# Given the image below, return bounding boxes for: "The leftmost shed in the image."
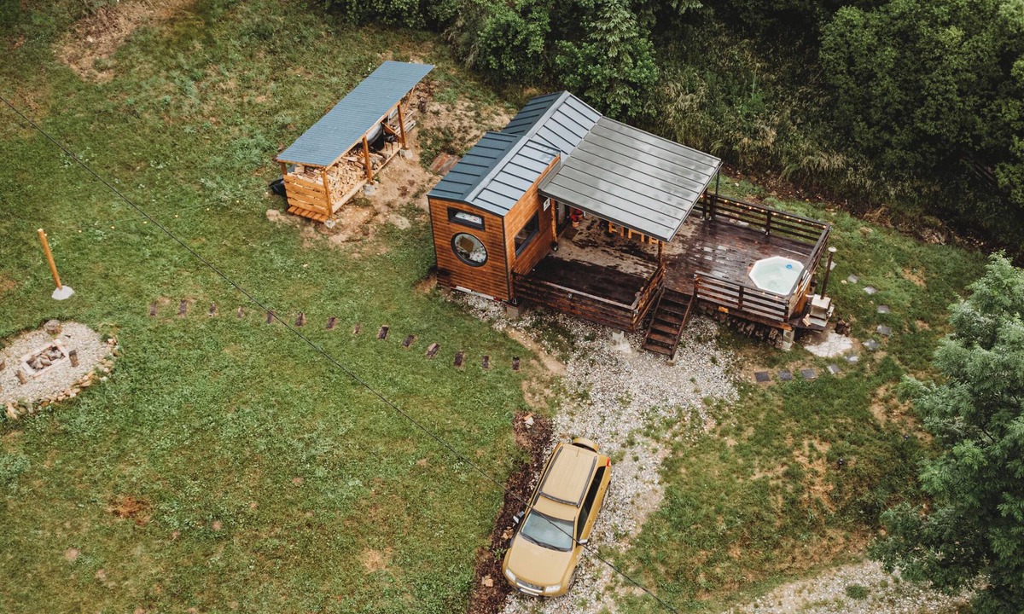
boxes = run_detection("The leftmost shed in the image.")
[272,60,441,227]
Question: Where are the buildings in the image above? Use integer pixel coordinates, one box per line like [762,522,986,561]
[425,88,604,305]
[272,60,441,227]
